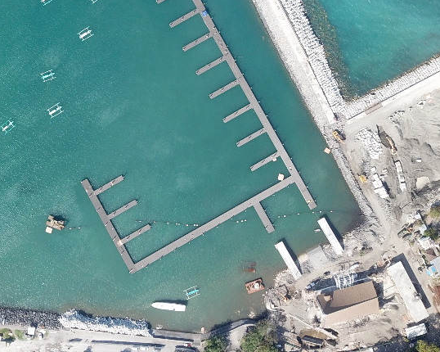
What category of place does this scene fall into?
port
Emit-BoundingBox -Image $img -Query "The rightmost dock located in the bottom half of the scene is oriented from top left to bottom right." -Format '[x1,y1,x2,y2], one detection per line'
[316,216,344,254]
